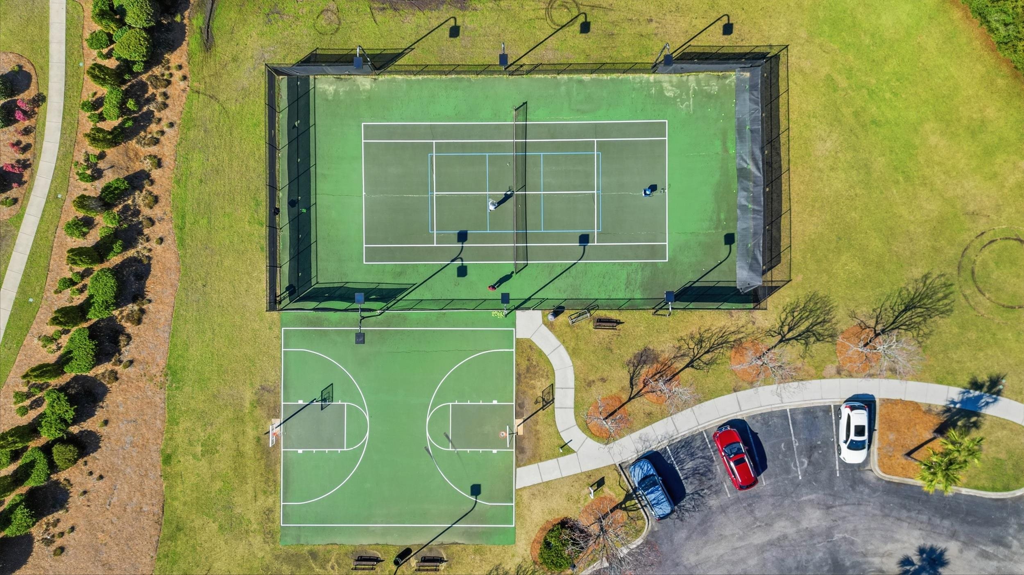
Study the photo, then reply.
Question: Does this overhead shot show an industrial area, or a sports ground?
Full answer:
This looks like a sports ground.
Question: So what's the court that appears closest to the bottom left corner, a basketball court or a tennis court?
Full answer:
Looking closely, the court that appears closest to the bottom left corner is a basketball court.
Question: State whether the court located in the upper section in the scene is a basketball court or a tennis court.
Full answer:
I'd say the court located in the upper section is a tennis court.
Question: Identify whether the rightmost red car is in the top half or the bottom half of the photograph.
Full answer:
Seen from above, the rightmost red car lies in the bottom half of the view.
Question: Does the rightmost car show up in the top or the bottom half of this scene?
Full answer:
Seen from above, the rightmost car lies in the bottom half of the view.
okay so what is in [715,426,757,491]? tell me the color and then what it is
red car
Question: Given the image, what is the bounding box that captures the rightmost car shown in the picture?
[838,402,871,462]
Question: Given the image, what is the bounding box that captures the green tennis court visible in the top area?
[281,74,753,310]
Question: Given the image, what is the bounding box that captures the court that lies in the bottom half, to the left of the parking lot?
[281,310,515,546]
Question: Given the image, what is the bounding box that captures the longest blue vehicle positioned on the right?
[632,457,675,522]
